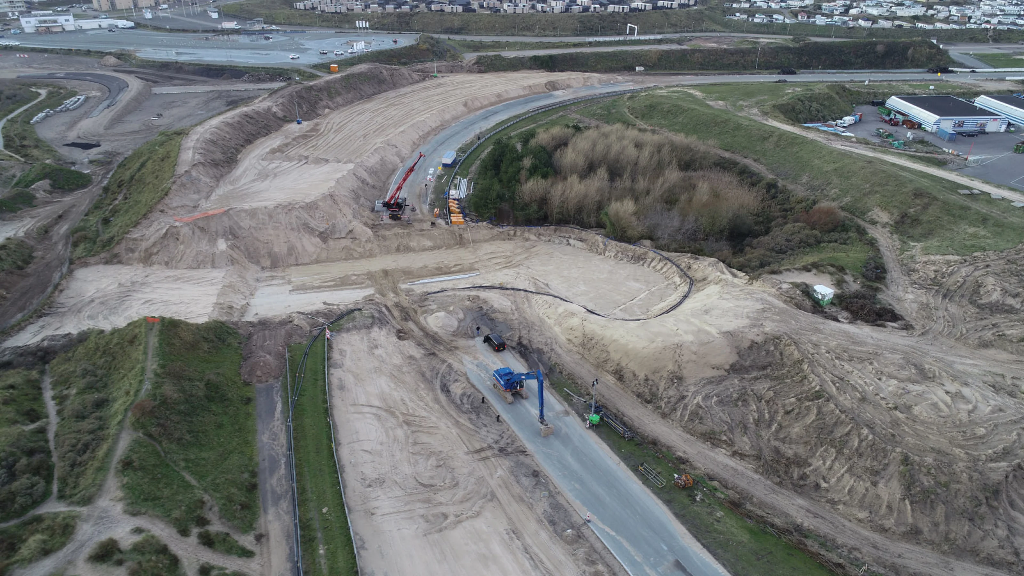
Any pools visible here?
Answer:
No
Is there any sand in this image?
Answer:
Yes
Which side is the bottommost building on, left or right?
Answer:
right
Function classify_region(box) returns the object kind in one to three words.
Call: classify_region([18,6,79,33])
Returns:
building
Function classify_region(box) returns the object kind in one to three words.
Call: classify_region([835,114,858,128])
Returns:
vehicle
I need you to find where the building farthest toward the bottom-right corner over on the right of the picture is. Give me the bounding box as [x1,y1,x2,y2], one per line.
[813,280,840,303]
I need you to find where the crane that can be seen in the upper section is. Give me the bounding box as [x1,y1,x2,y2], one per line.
[378,153,430,223]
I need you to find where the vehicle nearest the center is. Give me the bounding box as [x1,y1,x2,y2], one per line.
[480,333,507,354]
